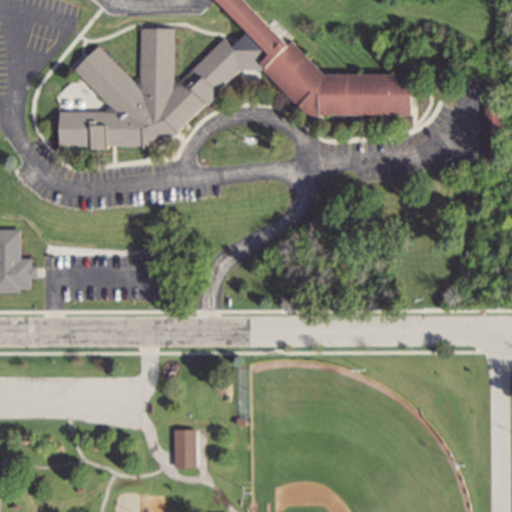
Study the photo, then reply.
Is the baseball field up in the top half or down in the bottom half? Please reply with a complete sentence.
Seen from above, the baseball field lies in the bottom half of the view.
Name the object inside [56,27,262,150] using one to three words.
building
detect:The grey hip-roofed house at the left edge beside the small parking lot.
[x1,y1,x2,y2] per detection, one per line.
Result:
[0,230,36,294]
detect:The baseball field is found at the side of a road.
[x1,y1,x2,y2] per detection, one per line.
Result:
[250,358,474,512]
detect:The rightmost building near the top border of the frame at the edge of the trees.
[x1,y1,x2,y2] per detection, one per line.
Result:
[212,0,410,118]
